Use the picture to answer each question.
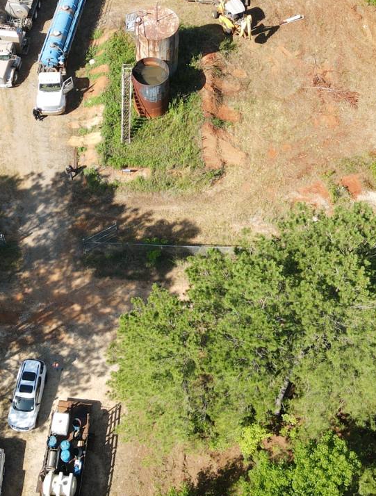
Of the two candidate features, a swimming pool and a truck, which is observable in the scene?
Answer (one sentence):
The one in the frame is a truck.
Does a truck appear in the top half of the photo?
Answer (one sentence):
Yes, a truck is visible in the top half of the photo.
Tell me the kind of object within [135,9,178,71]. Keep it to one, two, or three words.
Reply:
storage tank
